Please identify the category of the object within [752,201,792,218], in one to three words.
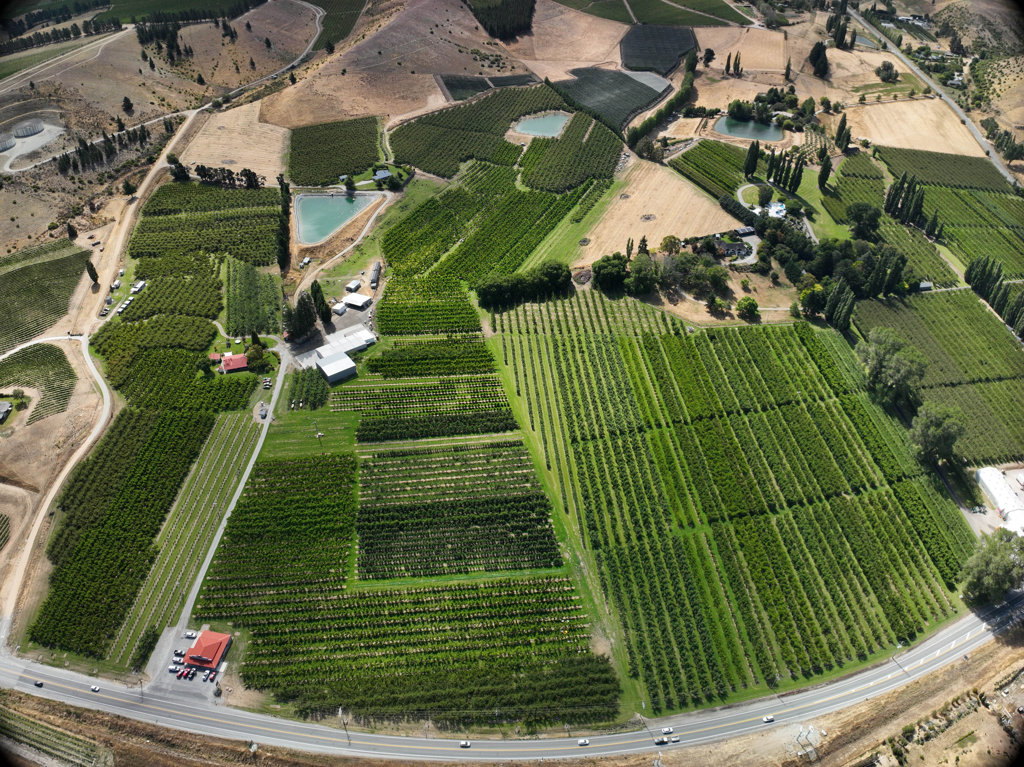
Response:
house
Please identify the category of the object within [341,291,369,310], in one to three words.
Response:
shed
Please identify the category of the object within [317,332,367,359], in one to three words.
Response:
shed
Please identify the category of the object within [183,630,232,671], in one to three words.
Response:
building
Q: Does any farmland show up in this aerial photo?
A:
Yes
